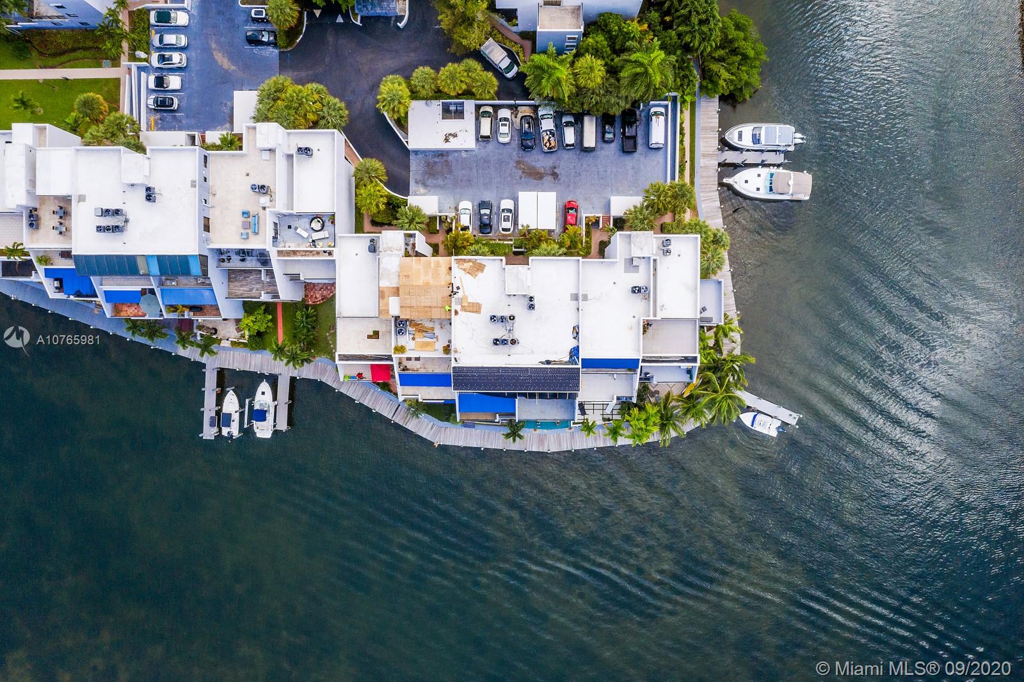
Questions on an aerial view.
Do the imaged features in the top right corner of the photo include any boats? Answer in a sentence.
Yes, a boat shows up in the top right corner of the photo.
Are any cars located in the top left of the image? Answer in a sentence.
Yes, a car appears in the top left of the image.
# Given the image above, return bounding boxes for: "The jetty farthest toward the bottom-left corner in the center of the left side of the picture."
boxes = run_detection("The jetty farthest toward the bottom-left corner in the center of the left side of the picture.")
[203,362,217,439]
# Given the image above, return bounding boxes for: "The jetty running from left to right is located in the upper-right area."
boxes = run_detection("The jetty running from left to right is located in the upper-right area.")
[717,151,784,164]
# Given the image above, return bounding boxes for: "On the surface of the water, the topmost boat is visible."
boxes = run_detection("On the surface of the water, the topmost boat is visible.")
[723,122,804,150]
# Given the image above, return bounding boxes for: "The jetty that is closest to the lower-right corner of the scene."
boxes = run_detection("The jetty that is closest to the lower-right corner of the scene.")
[731,390,800,425]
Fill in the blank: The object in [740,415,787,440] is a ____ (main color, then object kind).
white boat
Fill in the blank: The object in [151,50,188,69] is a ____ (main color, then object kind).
white car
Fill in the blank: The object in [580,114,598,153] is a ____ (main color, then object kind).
white vehicle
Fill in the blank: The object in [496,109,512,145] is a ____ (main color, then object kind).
white car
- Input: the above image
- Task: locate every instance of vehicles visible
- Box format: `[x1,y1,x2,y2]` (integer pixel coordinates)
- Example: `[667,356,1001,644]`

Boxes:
[564,200,579,233]
[621,109,639,154]
[539,106,558,154]
[245,28,279,47]
[498,199,515,235]
[245,6,268,23]
[480,33,519,78]
[152,32,189,50]
[580,114,598,153]
[496,109,512,145]
[478,200,494,235]
[519,115,536,152]
[560,114,577,150]
[648,107,667,149]
[458,200,474,235]
[601,113,617,144]
[478,105,495,142]
[148,74,183,91]
[148,94,180,111]
[151,11,190,28]
[151,50,188,69]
